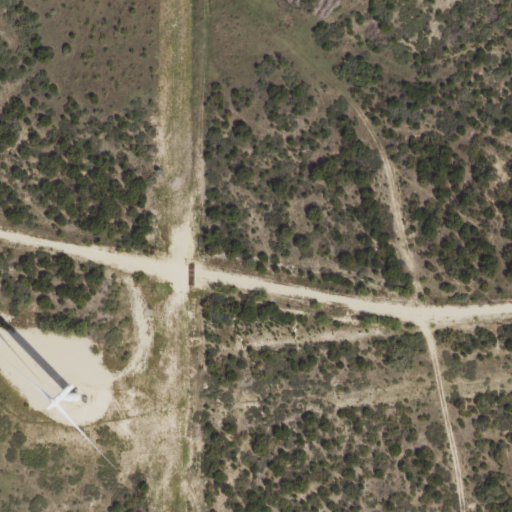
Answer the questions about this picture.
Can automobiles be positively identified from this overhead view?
No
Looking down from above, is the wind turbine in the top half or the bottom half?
bottom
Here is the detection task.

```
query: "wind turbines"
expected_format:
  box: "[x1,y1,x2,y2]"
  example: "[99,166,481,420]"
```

[0,354,112,468]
